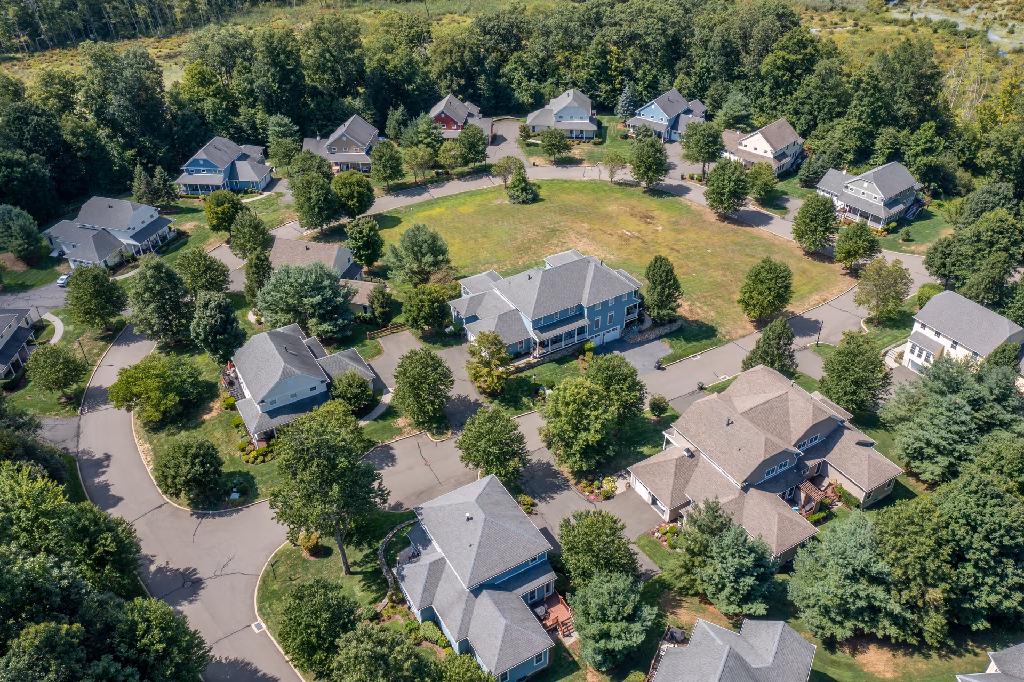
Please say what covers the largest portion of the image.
trees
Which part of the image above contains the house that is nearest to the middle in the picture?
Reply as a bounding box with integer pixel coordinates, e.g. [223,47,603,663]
[451,249,647,365]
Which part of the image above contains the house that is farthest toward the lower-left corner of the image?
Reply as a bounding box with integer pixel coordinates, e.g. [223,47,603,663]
[0,306,40,386]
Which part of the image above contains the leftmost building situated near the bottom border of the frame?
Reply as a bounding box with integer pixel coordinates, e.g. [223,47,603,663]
[392,474,576,682]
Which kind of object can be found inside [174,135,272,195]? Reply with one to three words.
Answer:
house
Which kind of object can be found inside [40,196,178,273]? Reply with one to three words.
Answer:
house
